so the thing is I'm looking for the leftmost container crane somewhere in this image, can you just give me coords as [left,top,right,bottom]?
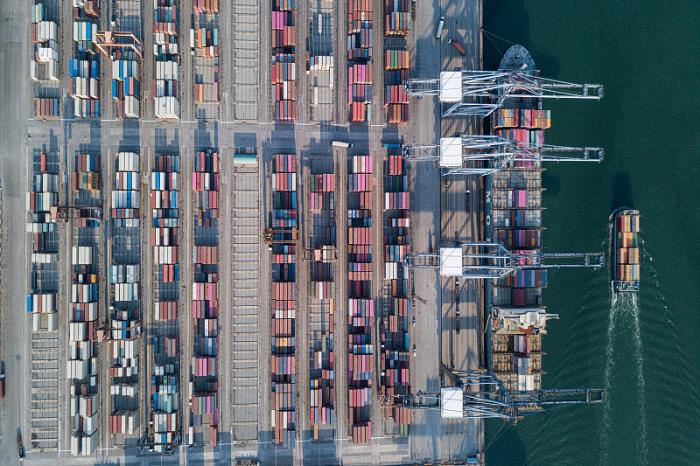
[47,203,103,223]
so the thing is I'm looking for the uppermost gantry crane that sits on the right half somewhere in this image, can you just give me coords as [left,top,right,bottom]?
[405,67,599,127]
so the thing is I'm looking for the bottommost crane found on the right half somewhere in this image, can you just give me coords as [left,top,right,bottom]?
[406,358,600,422]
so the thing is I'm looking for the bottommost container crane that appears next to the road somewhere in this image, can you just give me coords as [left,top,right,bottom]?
[133,422,183,454]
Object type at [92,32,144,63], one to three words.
container crane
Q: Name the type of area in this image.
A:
port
